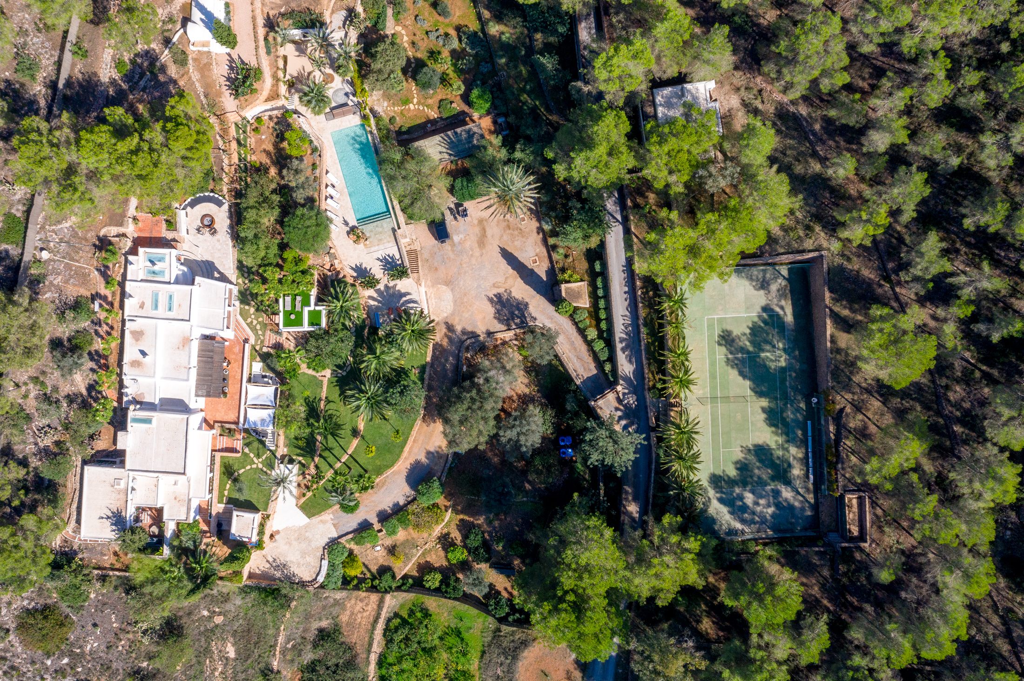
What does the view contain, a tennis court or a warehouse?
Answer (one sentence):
Looking from above, you can make out a tennis court.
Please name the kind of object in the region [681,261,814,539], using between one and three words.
tennis court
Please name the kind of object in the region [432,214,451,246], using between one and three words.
car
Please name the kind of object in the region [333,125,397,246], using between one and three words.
swimming pool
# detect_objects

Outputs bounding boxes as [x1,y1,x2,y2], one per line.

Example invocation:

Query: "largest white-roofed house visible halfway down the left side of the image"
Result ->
[80,248,246,557]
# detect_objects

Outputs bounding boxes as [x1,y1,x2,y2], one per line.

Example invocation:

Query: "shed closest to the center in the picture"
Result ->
[559,281,589,308]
